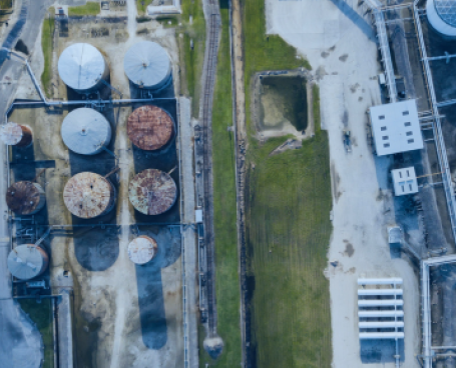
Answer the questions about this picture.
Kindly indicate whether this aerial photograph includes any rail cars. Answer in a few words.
No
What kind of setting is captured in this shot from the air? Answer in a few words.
industrial area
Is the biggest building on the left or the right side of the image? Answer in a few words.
right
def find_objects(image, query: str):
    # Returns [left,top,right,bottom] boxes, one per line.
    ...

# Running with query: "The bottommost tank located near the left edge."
[8,242,51,280]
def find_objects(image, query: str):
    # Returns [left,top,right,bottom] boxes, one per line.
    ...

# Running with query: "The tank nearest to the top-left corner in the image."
[58,43,111,94]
